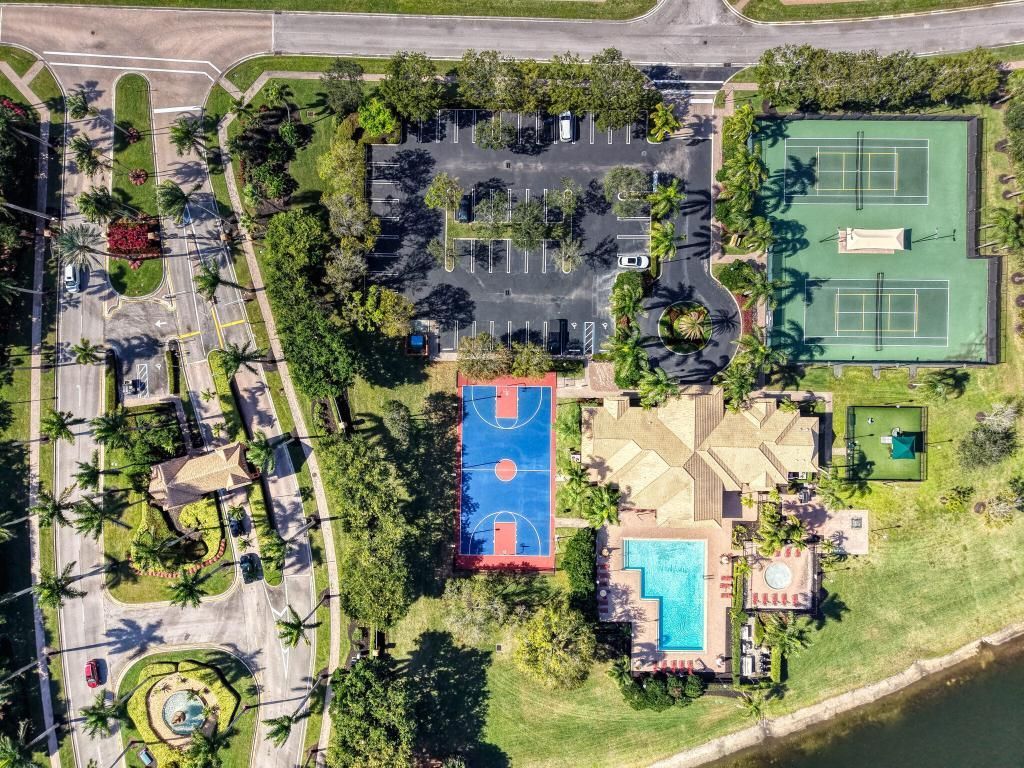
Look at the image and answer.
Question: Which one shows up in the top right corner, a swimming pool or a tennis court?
tennis court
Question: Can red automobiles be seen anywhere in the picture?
Yes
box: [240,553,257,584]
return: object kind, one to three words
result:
car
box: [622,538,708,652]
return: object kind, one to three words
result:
swimming pool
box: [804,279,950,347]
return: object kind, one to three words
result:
tennis court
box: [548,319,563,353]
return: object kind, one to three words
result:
vehicle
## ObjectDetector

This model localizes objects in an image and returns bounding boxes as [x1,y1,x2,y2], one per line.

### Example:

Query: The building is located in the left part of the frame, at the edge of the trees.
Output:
[147,442,257,510]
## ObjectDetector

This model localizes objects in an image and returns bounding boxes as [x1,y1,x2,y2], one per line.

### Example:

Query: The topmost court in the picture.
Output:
[785,138,929,205]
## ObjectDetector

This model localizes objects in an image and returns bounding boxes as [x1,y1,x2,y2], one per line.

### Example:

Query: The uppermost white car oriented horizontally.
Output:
[621,253,650,267]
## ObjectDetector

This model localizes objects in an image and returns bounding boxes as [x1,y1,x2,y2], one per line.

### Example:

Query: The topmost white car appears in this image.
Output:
[559,110,574,140]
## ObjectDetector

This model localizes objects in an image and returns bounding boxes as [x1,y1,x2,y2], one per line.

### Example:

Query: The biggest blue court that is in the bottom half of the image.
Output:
[456,373,557,572]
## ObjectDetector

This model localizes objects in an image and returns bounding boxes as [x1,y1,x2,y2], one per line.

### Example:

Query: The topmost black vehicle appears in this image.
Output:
[542,112,556,140]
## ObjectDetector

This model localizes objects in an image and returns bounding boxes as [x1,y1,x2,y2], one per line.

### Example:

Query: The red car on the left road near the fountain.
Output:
[84,659,100,687]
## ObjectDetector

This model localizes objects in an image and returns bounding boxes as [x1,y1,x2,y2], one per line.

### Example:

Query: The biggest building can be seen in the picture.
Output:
[582,385,820,527]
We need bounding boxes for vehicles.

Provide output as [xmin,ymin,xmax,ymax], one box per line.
[84,659,100,687]
[548,319,563,353]
[240,553,257,584]
[457,193,470,221]
[559,110,574,140]
[621,253,650,267]
[542,112,556,140]
[62,262,80,291]
[121,381,134,395]
[228,517,243,541]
